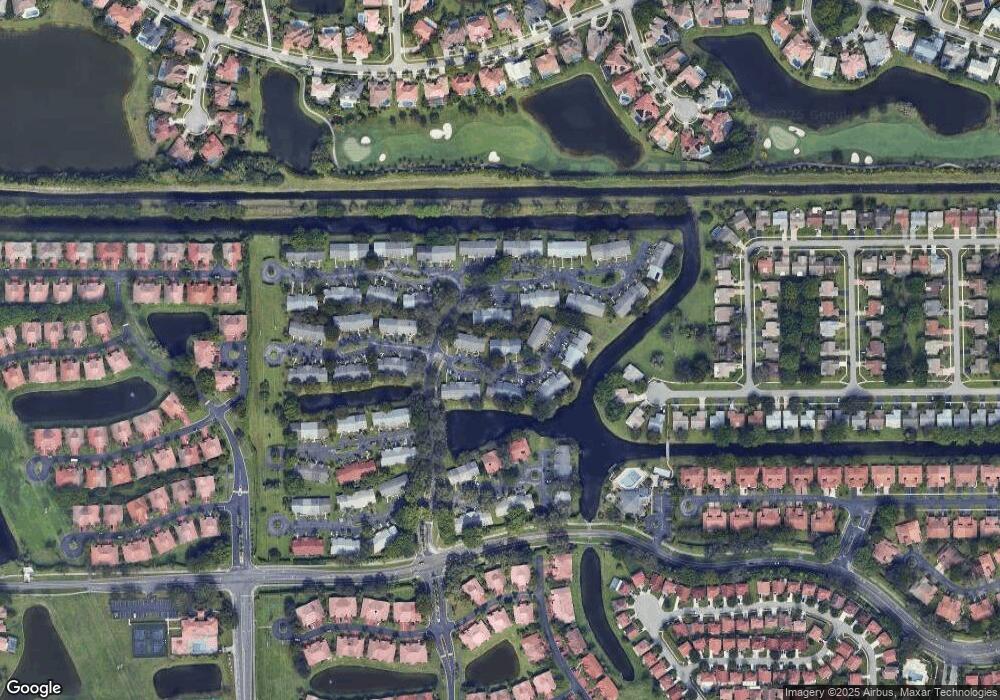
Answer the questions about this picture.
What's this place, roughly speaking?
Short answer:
residential area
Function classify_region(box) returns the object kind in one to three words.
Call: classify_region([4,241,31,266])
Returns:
house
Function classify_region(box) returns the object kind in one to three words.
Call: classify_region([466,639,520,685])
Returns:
pond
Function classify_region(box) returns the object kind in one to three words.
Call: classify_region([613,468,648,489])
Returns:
swimming pool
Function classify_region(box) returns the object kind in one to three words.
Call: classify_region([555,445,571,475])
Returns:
building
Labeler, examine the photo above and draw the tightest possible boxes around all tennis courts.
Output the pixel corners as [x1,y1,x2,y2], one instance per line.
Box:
[152,630,162,653]
[135,630,145,653]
